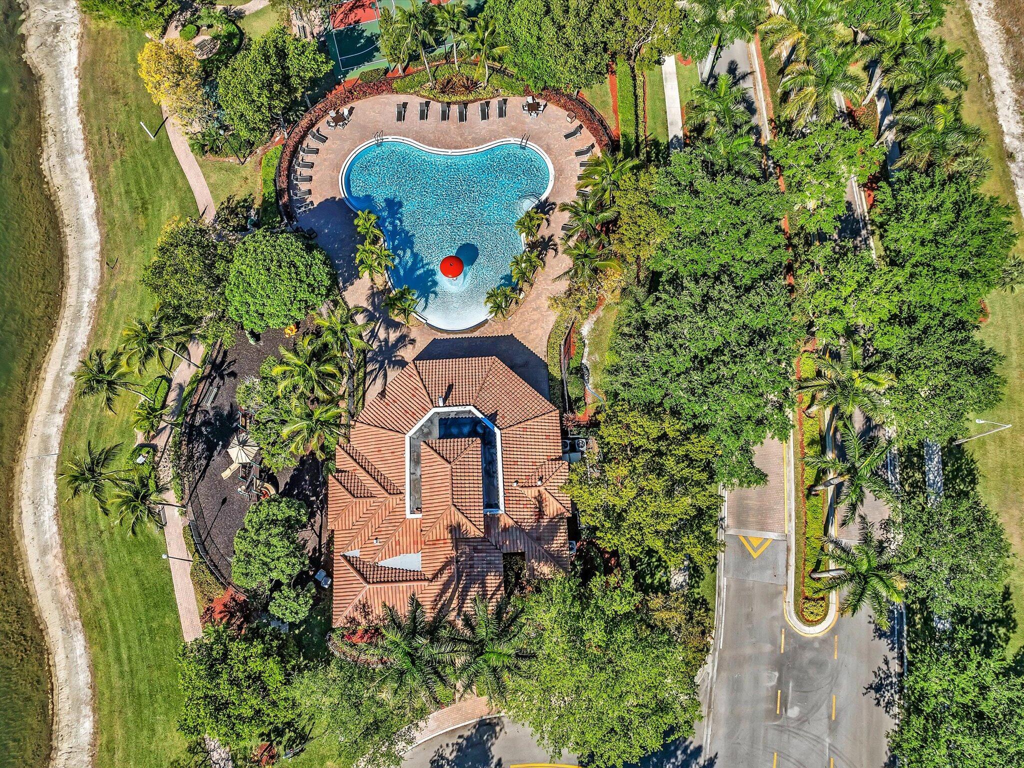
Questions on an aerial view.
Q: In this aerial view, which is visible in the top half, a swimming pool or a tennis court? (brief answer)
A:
swimming pool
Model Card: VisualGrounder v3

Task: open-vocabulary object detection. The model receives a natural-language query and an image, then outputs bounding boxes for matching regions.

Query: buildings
[327,356,573,628]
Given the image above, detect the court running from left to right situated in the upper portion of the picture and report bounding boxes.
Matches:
[309,0,562,82]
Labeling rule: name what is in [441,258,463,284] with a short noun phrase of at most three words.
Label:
fountain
